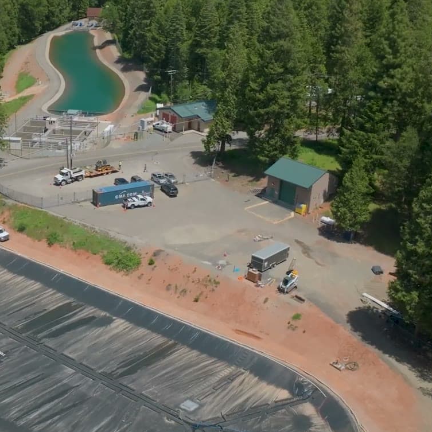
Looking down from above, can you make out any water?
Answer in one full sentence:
Yes, water shows up in the scene.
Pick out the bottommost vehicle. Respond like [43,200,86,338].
[278,272,299,292]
